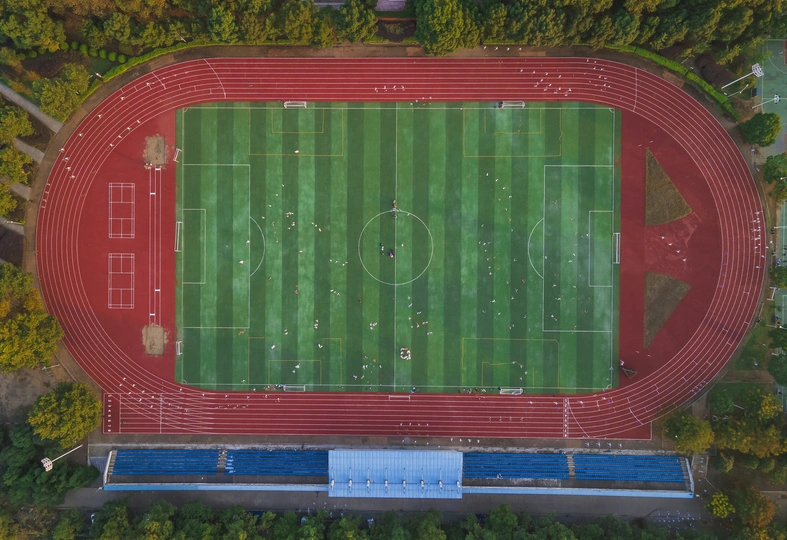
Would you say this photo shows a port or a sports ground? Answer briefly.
sports ground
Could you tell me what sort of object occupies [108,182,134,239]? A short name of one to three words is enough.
sports court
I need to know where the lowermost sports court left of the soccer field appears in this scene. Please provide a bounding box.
[108,253,134,310]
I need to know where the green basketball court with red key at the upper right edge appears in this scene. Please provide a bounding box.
[756,38,787,148]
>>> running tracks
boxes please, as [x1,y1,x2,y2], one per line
[35,57,767,439]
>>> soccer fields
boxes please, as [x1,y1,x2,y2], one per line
[174,102,622,394]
